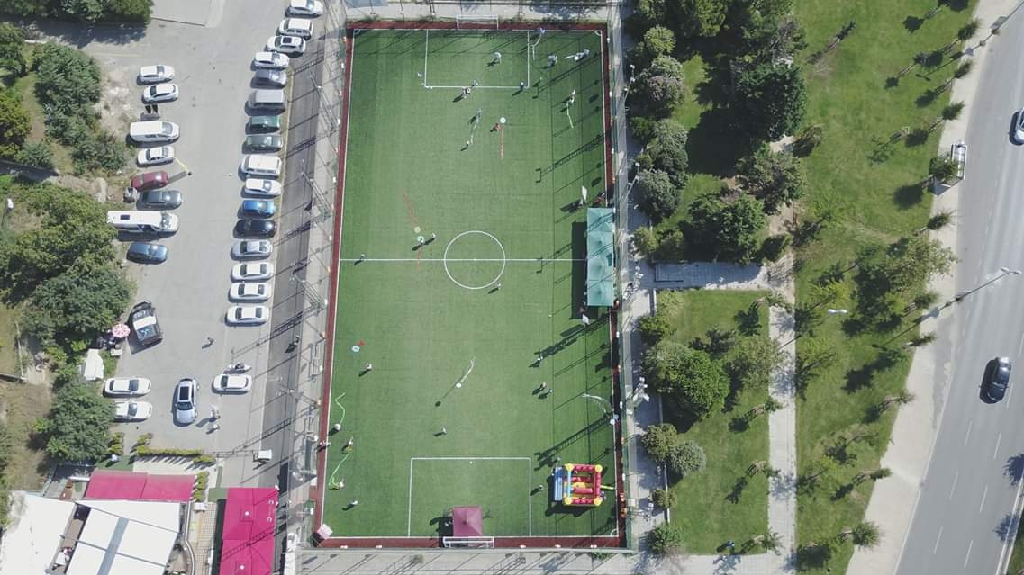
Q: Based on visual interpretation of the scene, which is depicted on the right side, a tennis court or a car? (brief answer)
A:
car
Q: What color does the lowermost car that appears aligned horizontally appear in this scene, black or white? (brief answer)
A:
white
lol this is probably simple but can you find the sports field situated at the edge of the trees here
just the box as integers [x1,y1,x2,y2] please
[312,22,631,550]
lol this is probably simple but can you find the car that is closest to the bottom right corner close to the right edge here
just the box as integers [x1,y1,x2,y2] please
[982,356,1011,404]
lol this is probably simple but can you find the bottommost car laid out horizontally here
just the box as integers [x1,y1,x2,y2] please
[106,402,153,422]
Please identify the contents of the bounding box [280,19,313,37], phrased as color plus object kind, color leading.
white car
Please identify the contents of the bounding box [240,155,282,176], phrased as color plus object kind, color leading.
white vehicle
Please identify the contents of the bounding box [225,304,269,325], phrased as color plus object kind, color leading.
white car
